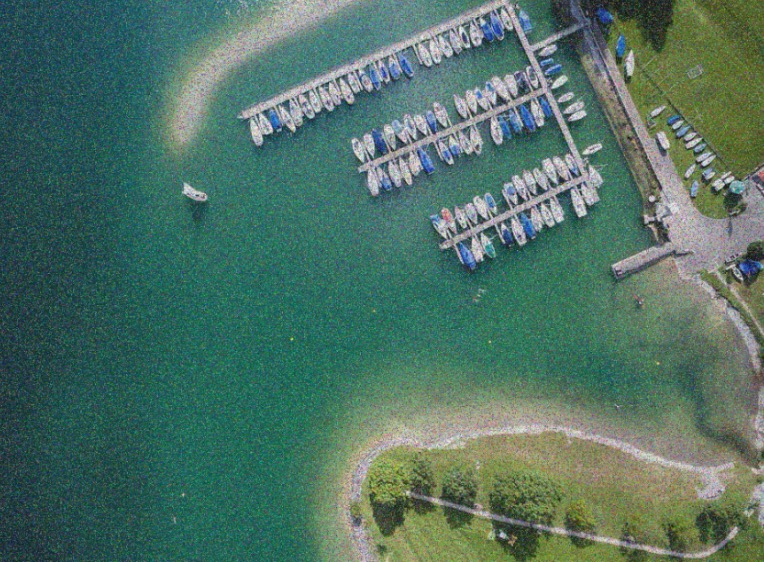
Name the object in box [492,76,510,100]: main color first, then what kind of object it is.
white boat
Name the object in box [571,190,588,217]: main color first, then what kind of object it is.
white boat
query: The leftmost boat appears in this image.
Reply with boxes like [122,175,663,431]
[183,184,209,201]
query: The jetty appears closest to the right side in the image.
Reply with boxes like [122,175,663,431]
[610,240,677,278]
